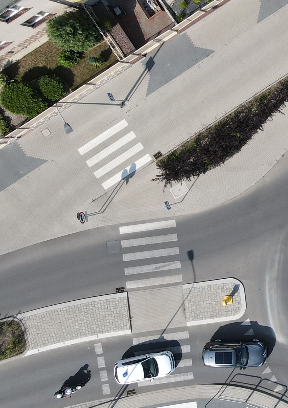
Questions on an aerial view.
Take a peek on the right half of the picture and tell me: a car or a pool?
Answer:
car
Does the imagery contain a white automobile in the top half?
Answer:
No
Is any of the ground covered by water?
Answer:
No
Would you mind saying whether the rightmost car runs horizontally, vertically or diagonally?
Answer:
horizontally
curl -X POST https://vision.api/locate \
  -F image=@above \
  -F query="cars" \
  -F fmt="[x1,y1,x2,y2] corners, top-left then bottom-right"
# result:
[200,337,270,371]
[114,348,178,381]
